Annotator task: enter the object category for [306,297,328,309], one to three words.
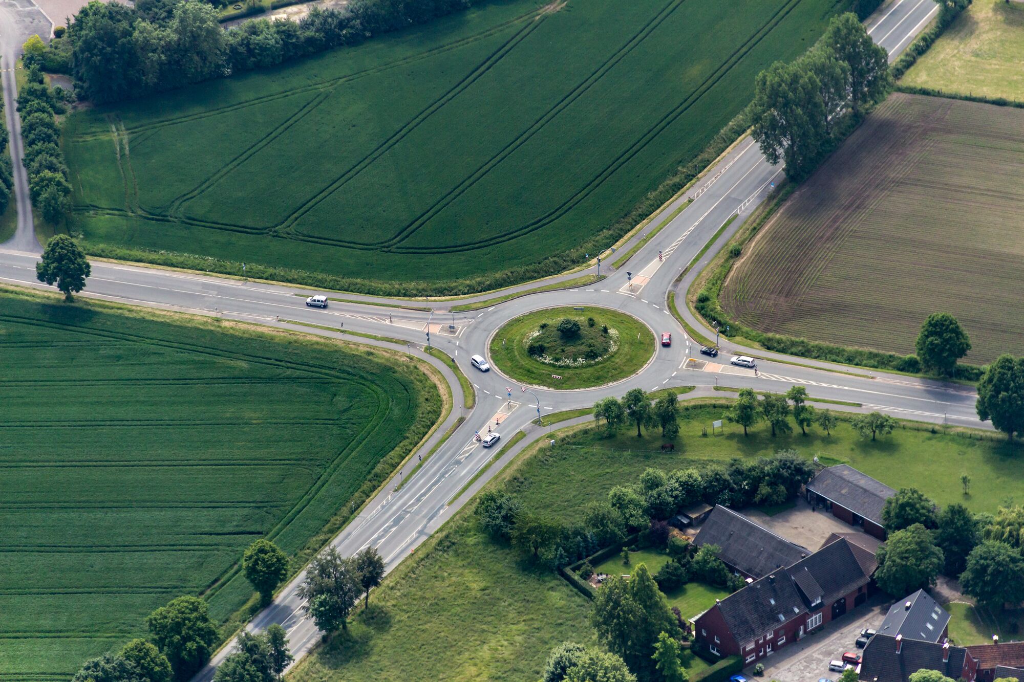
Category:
vehicle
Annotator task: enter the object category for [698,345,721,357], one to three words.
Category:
vehicle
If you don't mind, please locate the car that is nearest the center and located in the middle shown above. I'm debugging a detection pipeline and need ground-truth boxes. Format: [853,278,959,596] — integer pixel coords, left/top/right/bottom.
[471,355,489,372]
